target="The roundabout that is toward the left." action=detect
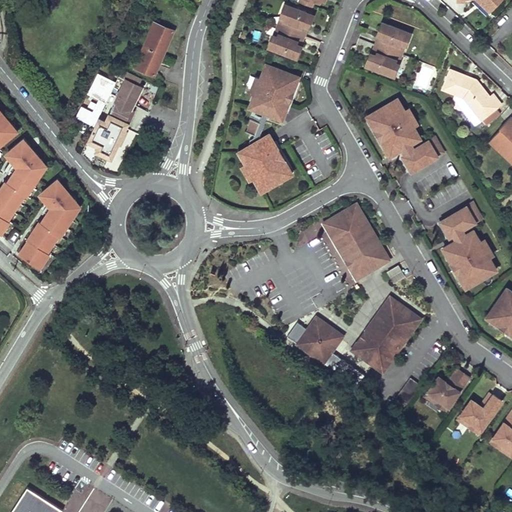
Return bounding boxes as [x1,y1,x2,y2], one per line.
[110,176,204,270]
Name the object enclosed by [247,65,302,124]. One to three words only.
house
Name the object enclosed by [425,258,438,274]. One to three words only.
vehicle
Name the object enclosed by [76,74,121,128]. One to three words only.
building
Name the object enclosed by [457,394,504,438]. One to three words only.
house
